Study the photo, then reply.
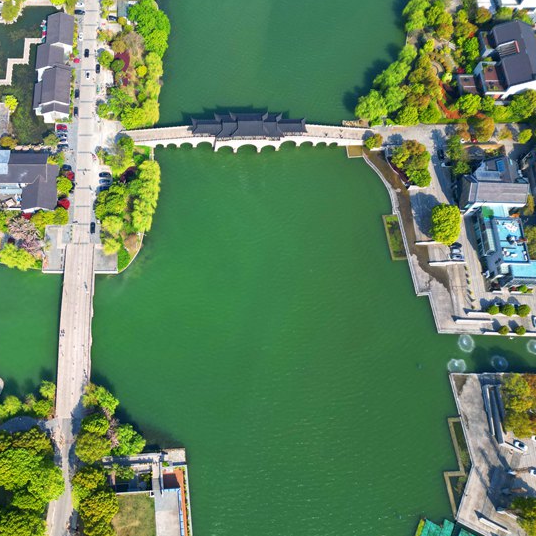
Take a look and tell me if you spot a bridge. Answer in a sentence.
Yes, I can see a bridge in this picture.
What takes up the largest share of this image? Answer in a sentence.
Most of the picture is covered by water.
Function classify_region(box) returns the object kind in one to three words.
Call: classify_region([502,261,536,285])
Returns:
house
